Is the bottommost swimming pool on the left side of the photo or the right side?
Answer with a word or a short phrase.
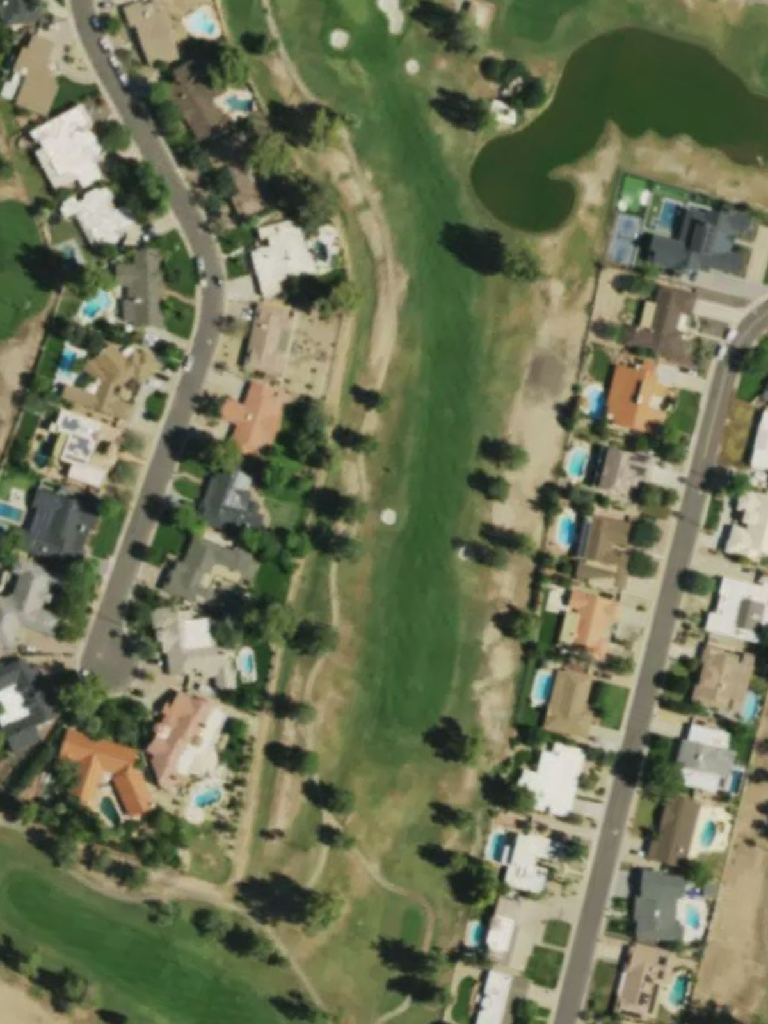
right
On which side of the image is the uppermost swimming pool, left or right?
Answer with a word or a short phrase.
left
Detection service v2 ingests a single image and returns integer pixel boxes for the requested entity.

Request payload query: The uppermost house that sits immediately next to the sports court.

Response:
[648,207,757,274]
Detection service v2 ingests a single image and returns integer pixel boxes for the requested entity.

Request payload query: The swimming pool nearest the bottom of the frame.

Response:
[665,970,692,1013]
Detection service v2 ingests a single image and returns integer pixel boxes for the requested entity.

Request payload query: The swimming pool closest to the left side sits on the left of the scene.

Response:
[0,488,26,523]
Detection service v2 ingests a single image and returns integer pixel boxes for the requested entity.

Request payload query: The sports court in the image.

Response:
[608,214,642,264]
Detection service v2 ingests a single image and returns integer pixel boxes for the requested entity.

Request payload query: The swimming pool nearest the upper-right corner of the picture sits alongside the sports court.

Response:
[657,197,686,234]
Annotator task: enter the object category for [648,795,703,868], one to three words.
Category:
house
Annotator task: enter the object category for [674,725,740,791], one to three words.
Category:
house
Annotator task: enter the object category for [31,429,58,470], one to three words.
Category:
swimming pool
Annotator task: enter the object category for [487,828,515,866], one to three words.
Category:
swimming pool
